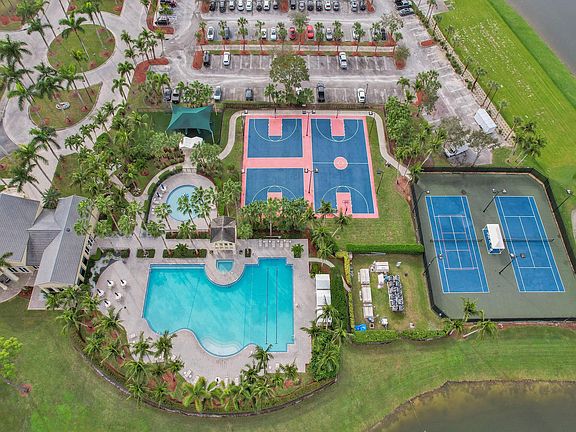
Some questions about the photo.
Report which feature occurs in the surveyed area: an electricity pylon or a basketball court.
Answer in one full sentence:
There is a basketball court in the scene.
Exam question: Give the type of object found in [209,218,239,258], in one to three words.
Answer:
gazebo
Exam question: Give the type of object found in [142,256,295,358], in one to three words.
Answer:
swimming pool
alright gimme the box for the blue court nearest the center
[240,163,309,218]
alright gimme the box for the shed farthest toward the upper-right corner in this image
[470,109,498,137]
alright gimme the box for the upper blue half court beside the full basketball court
[242,115,308,163]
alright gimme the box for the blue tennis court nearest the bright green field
[474,173,576,321]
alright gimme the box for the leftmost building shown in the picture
[0,194,99,294]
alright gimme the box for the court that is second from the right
[414,173,511,320]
